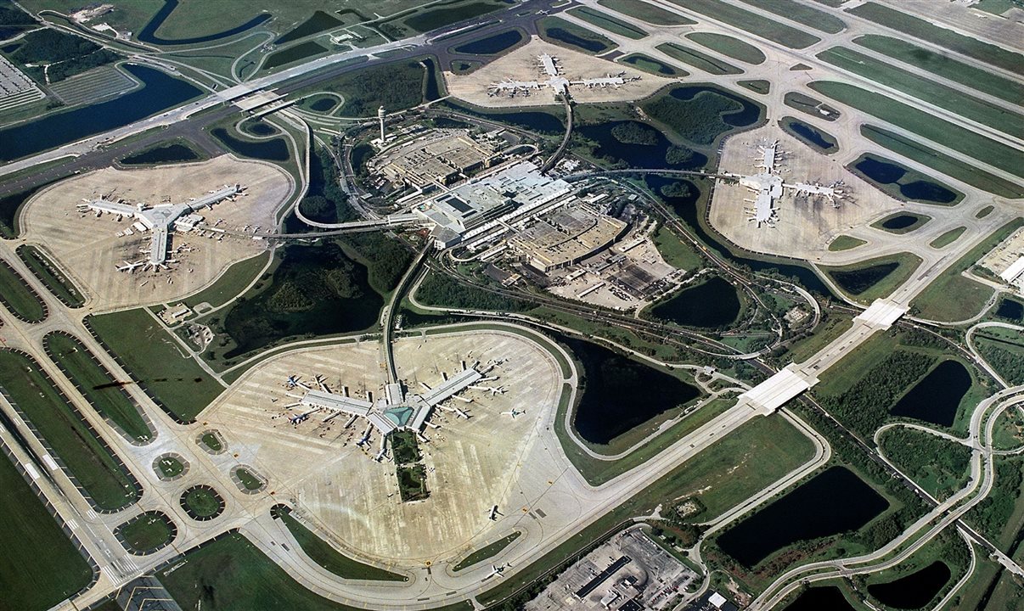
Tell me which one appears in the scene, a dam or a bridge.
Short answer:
bridge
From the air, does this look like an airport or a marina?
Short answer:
airport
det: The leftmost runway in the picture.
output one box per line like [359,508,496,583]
[0,394,141,584]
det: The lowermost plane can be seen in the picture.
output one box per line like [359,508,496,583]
[487,556,514,577]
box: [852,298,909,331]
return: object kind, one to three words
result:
bridge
